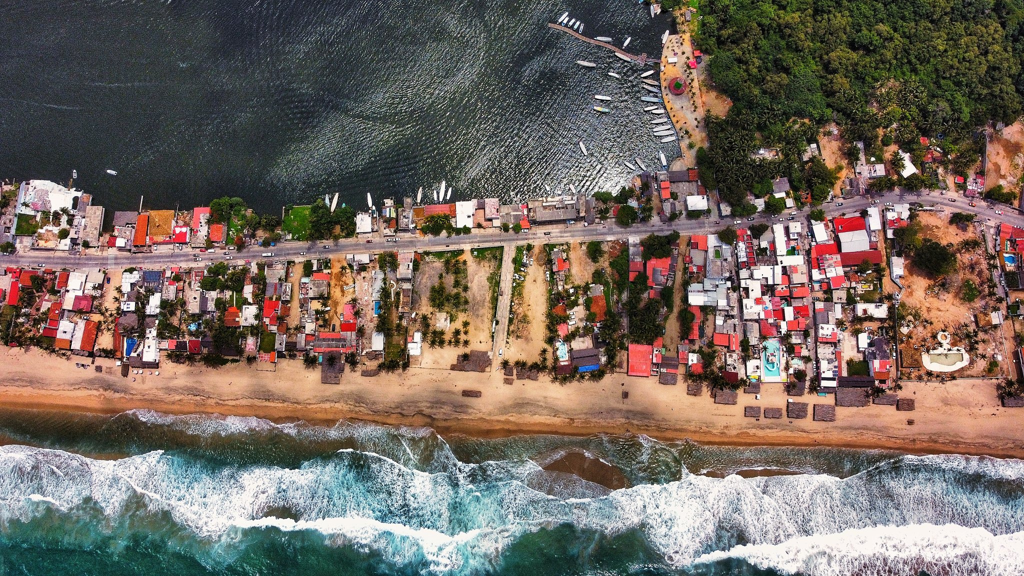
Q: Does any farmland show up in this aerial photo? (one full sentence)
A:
No, the scene doesn't show any farmland.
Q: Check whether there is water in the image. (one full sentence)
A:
Yes, there is water in the image.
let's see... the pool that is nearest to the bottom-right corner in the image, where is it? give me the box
[928,353,964,366]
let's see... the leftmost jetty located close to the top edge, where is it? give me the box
[548,23,638,59]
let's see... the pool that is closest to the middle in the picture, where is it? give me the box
[556,343,568,358]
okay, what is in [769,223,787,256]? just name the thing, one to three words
house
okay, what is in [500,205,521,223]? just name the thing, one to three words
house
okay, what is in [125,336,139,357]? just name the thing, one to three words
swimming pool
